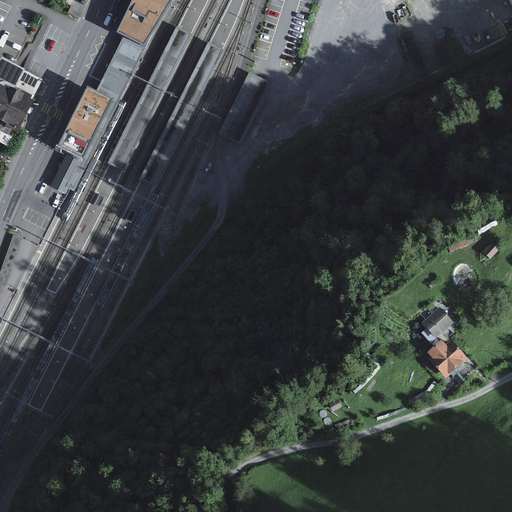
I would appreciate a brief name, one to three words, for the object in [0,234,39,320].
building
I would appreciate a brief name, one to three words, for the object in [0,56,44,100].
building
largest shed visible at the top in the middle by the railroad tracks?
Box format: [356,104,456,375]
[220,72,268,142]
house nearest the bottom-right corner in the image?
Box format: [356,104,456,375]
[428,339,474,384]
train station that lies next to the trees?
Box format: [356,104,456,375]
[0,0,244,410]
